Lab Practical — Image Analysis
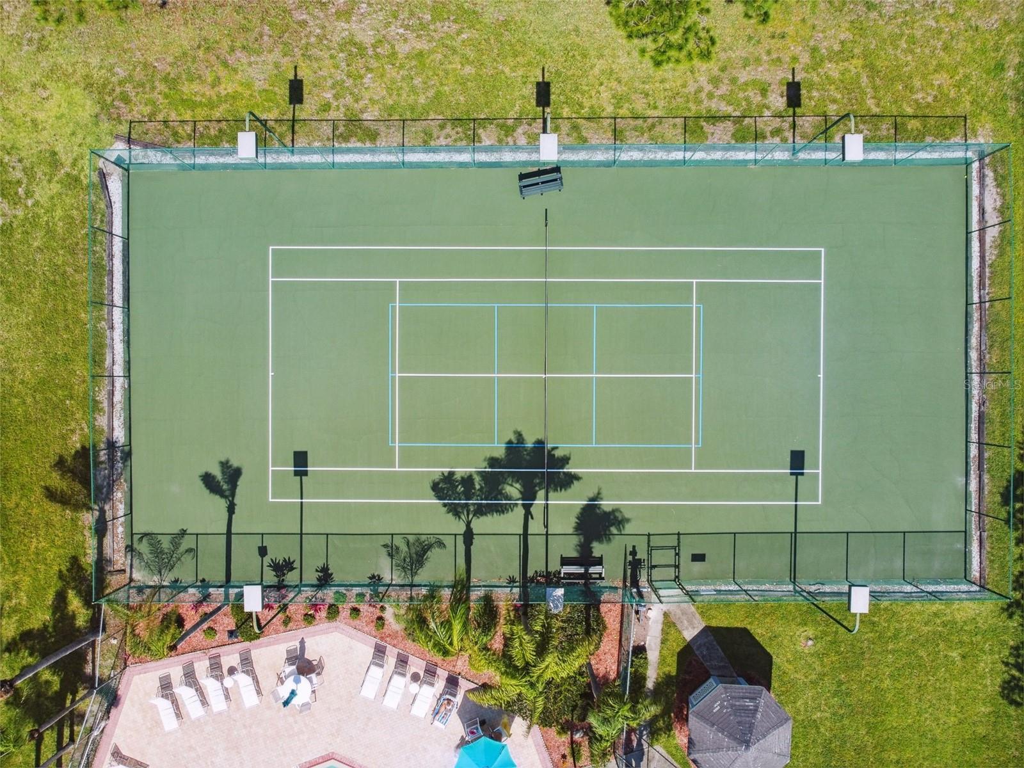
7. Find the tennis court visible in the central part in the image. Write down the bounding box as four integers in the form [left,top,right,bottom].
[123,160,972,585]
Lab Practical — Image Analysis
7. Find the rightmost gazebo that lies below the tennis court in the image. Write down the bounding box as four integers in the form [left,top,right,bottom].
[686,675,794,768]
